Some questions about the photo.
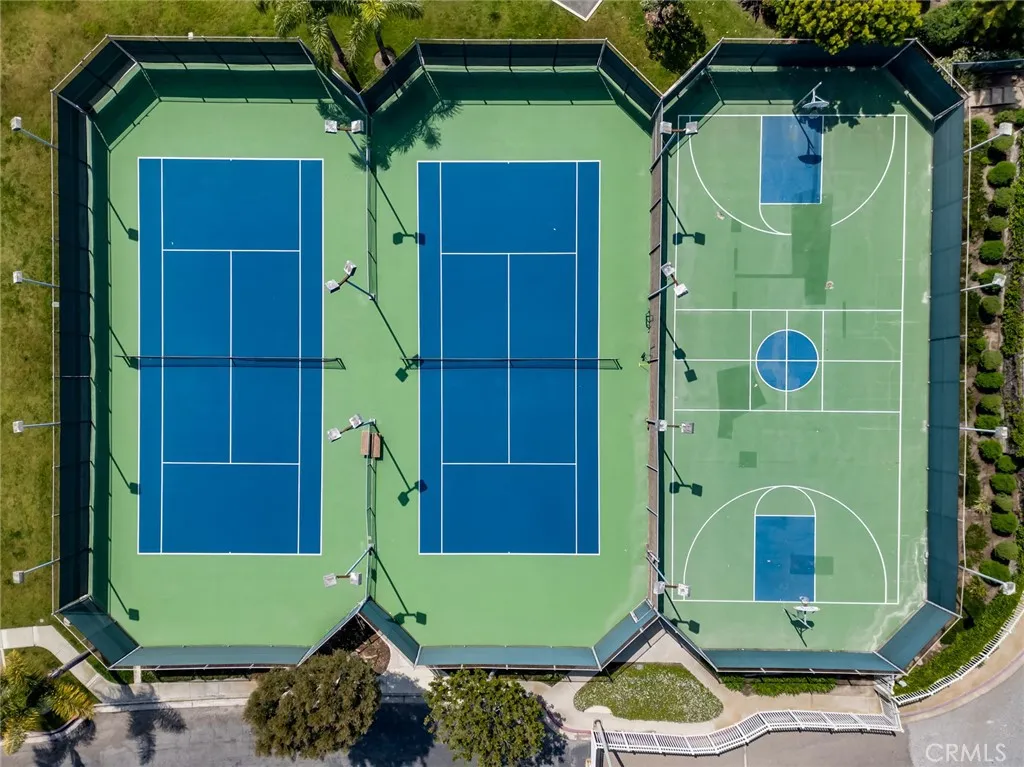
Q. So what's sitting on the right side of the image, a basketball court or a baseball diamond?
basketball court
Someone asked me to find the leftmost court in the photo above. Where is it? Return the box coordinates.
[84,59,371,650]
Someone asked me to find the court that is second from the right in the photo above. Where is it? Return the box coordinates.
[371,61,650,645]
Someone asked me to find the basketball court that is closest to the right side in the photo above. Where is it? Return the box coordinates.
[647,58,935,654]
